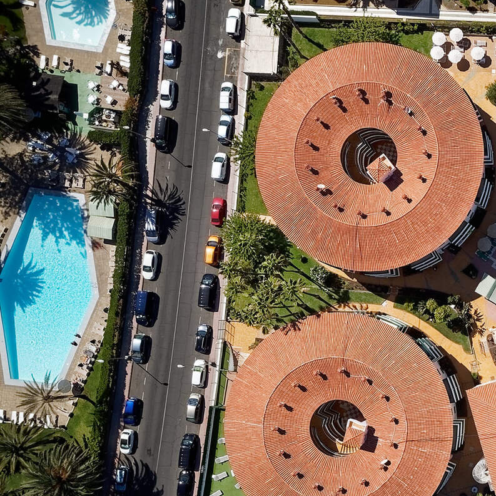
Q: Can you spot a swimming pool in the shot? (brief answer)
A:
Yes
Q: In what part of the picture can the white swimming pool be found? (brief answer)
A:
top left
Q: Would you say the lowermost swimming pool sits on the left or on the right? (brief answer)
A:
left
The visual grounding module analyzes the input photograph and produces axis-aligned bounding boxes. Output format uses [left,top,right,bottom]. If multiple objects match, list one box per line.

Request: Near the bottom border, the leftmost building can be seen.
[224,312,464,496]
